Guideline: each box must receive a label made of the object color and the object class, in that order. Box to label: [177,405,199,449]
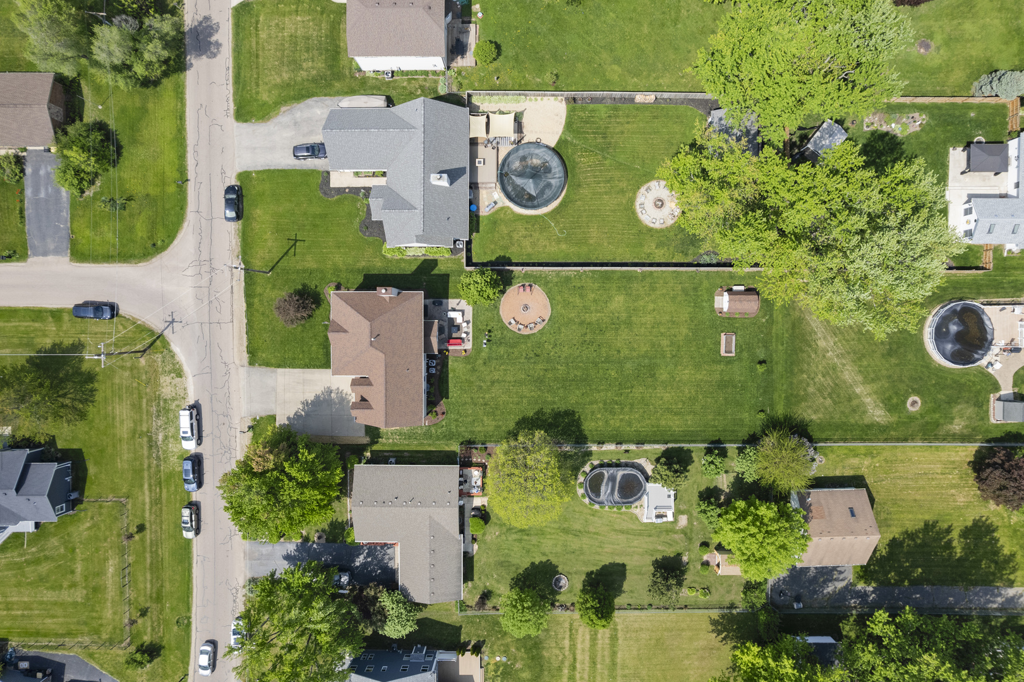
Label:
white car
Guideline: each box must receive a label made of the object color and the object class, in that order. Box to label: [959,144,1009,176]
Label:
gray gazebo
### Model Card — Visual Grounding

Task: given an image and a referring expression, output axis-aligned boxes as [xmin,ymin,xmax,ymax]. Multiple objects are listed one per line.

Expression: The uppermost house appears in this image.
[345,0,445,69]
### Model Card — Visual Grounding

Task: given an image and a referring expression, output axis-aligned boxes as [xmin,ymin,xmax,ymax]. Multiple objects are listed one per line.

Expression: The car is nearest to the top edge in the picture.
[293,142,328,160]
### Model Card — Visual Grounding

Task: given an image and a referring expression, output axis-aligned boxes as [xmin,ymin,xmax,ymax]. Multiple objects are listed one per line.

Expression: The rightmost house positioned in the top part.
[961,130,1024,266]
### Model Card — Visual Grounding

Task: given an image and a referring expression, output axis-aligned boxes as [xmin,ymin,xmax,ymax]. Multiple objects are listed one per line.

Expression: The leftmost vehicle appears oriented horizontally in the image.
[72,301,120,320]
